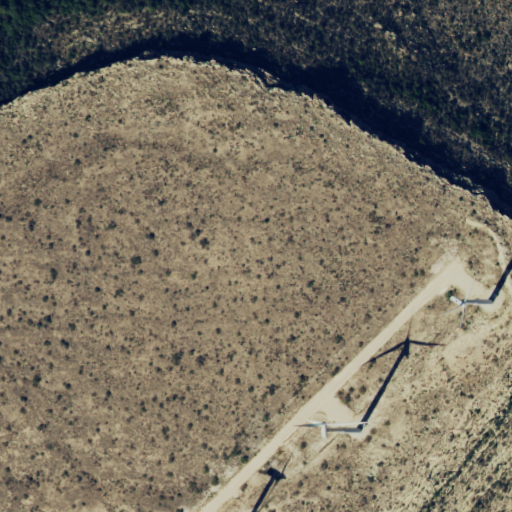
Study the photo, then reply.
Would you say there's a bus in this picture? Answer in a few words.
No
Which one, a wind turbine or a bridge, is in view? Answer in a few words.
wind turbine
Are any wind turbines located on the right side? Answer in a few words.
Yes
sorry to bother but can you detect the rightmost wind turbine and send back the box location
[444,272,496,328]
